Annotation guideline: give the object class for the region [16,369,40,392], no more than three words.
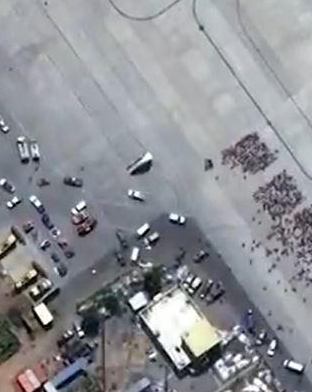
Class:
shed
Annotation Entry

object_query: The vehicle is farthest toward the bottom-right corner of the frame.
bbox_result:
[283,359,304,372]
